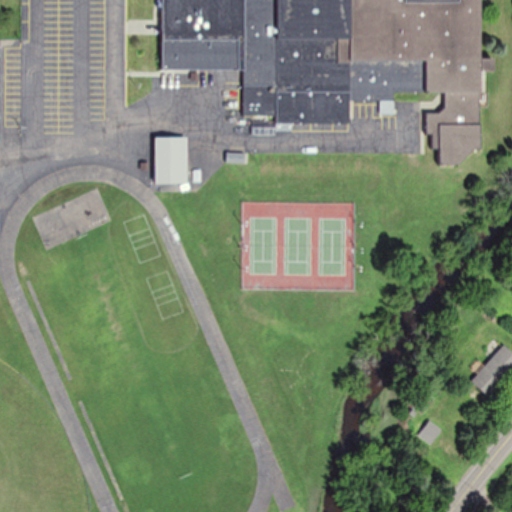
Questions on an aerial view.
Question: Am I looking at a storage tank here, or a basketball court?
basketball court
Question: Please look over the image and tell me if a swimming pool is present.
No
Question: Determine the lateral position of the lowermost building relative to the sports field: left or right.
right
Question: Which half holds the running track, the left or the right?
left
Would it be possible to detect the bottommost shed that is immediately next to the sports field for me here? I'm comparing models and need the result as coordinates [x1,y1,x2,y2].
[153,136,188,185]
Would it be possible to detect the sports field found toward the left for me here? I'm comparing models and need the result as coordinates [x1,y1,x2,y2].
[14,182,259,512]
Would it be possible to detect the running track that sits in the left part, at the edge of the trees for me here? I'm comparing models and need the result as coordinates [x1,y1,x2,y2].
[0,165,296,512]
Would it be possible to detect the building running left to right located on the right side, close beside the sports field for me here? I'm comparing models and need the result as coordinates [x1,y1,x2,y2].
[160,0,495,166]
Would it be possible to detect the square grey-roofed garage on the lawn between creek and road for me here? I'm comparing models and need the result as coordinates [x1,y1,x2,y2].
[418,420,442,446]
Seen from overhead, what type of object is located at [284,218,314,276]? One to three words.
tennis court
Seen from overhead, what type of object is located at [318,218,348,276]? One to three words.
tennis court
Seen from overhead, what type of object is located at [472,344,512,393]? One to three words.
house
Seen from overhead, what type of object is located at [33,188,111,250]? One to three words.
basketball court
